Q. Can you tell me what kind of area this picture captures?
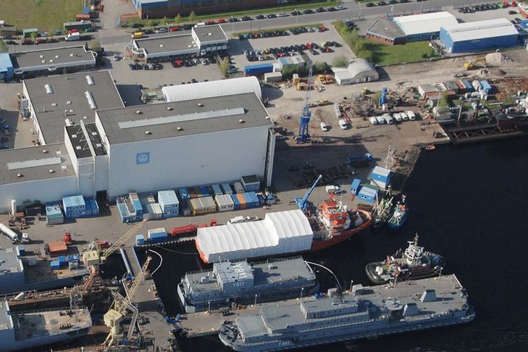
port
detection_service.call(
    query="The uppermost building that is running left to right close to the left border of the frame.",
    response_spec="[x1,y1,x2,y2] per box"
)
[10,45,96,80]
